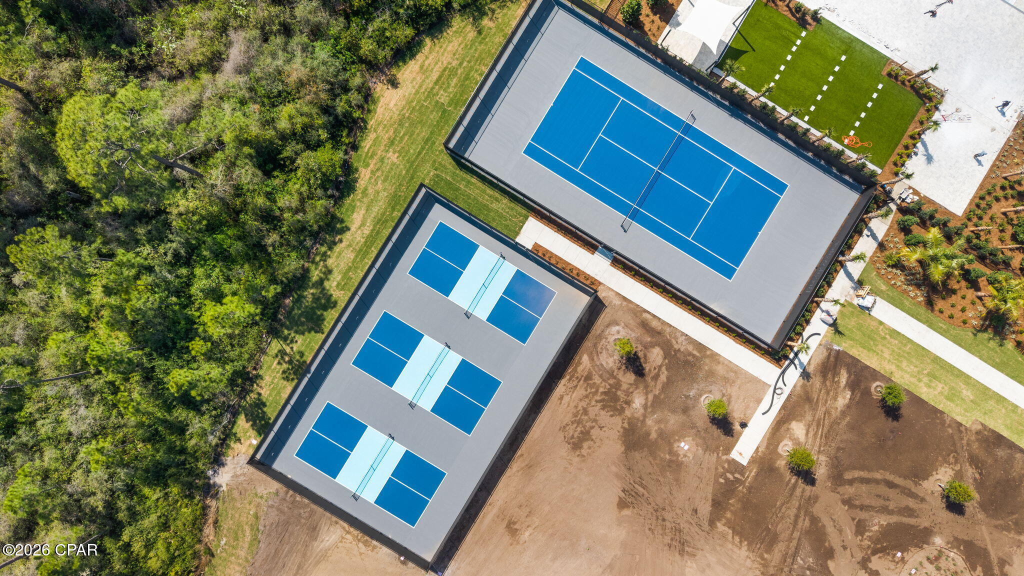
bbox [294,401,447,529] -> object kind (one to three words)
sports court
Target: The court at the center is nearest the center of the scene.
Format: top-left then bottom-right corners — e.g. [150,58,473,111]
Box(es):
[407,220,558,346]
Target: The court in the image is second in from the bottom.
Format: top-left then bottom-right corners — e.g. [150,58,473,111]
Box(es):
[351,310,502,437]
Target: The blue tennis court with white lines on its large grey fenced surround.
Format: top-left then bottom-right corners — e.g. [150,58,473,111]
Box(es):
[444,0,867,348]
